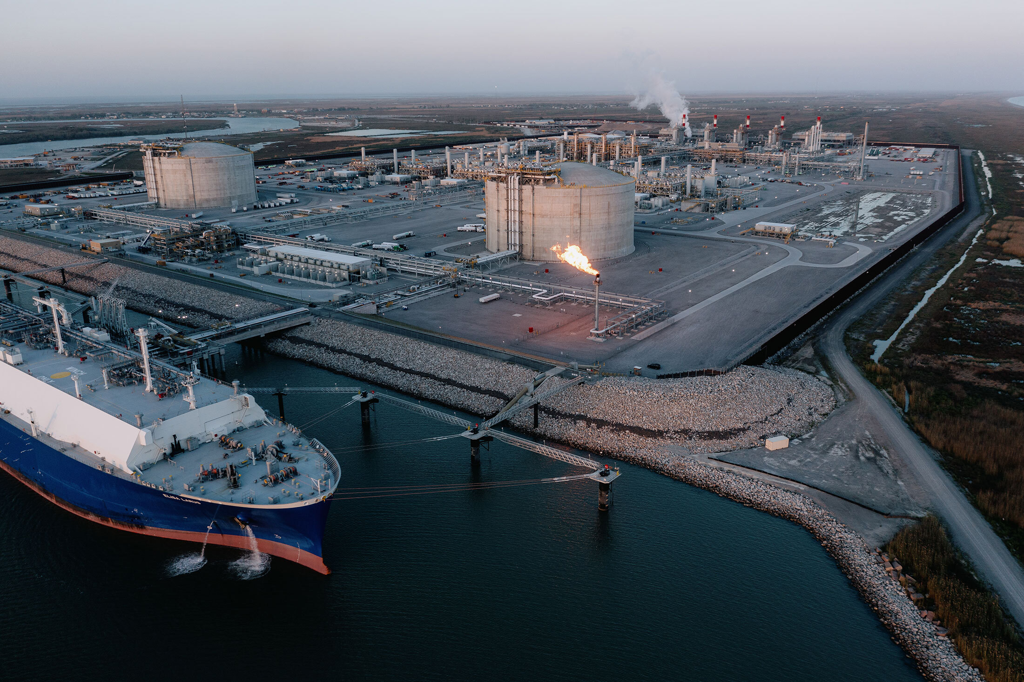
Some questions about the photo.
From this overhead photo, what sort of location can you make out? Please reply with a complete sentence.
The area seen from above is a port.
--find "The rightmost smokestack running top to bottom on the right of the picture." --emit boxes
[849,119,877,180]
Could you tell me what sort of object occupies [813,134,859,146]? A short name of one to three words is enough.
cooling tower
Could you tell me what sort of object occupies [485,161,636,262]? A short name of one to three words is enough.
storage tank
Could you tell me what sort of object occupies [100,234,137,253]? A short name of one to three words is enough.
building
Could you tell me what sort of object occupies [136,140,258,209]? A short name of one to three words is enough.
storage tank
